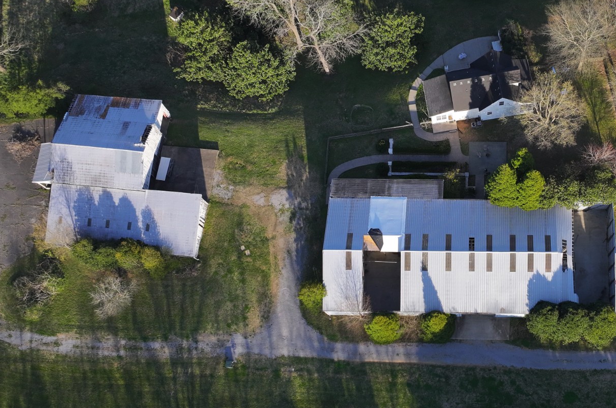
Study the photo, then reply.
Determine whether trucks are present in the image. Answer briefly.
No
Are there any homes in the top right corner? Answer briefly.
Yes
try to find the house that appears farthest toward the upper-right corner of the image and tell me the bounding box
[422,47,536,136]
